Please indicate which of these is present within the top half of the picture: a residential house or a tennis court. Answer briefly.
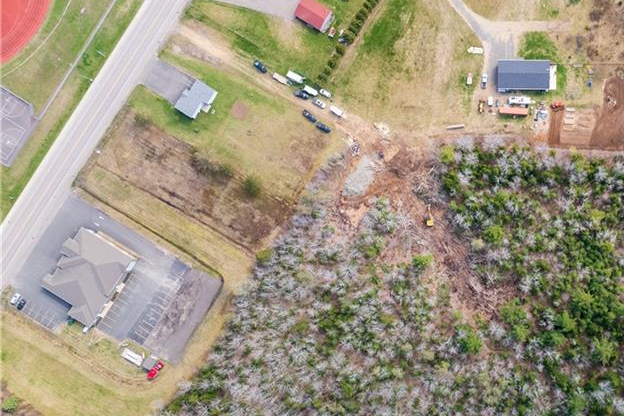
residential house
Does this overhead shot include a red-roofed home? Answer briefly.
Yes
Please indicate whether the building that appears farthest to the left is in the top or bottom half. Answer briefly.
bottom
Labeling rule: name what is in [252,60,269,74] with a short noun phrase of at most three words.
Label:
vehicle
